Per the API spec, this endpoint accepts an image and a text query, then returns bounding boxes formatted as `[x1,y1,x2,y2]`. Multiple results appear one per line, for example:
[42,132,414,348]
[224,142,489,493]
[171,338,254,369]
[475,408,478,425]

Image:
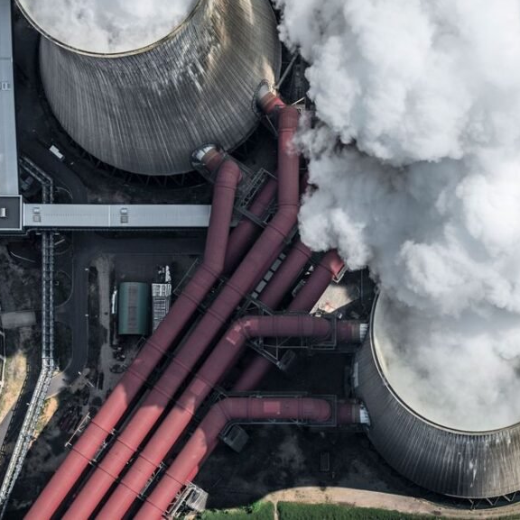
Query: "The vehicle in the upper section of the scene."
[50,145,64,160]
